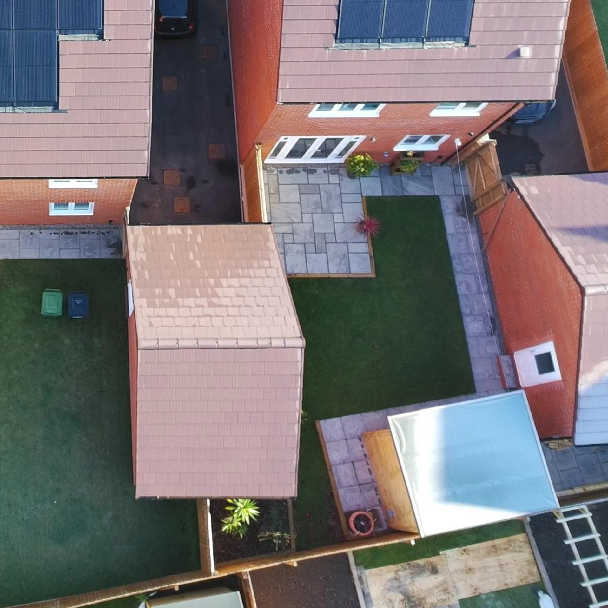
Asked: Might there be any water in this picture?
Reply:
No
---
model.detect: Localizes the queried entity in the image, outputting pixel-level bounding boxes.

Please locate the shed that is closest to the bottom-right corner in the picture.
[361,384,564,540]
